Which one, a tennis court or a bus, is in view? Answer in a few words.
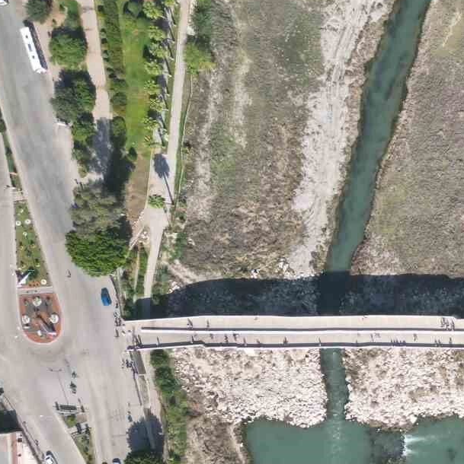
bus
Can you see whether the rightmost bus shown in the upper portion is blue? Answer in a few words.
No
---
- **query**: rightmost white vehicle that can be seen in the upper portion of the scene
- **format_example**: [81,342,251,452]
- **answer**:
[14,24,48,70]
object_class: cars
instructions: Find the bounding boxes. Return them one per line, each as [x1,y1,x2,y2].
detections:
[101,289,112,306]
[46,452,58,464]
